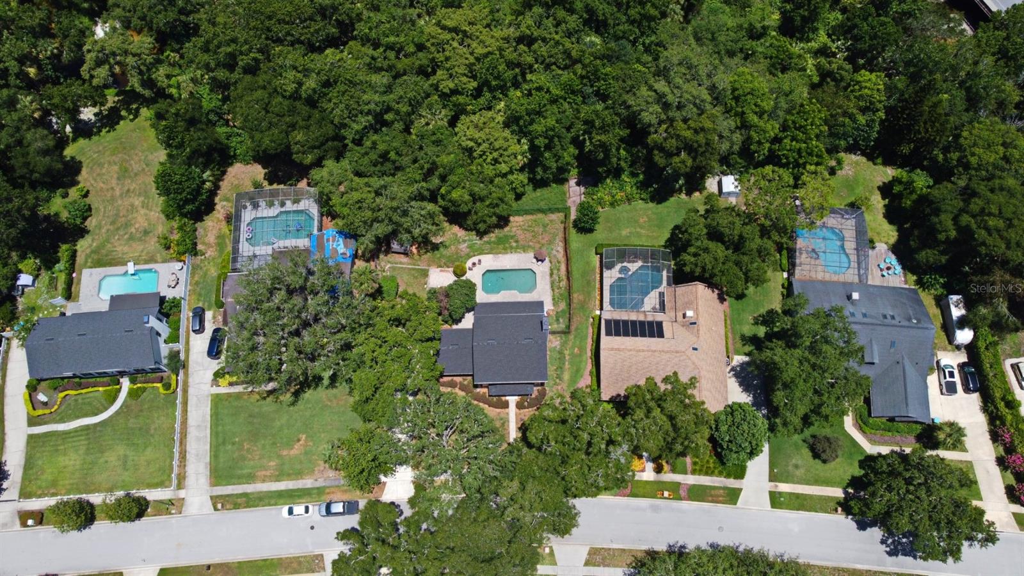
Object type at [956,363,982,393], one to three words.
car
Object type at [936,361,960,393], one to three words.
truck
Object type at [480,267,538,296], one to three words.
swimming pool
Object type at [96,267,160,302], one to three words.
swimming pool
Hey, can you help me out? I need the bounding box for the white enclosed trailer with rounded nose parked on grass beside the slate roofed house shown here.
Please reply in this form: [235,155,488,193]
[937,299,974,353]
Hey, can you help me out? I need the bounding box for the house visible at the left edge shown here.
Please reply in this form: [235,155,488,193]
[26,294,173,381]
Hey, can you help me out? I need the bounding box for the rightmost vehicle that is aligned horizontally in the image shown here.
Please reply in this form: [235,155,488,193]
[319,499,360,517]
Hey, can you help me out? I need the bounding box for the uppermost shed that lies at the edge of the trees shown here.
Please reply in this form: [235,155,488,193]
[719,176,740,200]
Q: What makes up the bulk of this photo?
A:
trees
